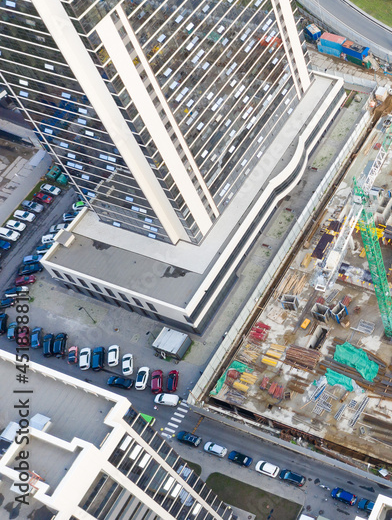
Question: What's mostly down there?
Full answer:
The largest share of the image is taken up by buildings.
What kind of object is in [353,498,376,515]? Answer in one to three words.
car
